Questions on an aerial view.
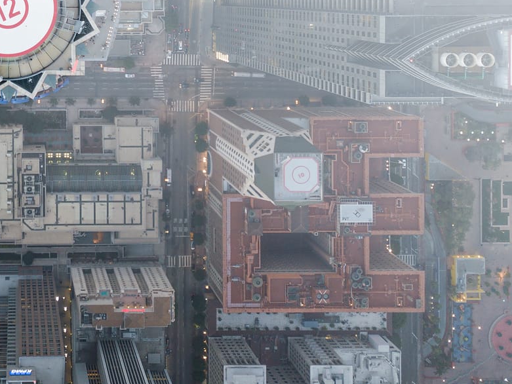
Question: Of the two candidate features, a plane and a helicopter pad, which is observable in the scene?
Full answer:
This aerial view contains a helicopter pad.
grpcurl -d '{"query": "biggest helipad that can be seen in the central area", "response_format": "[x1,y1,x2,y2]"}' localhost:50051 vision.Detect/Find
[284,158,318,191]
